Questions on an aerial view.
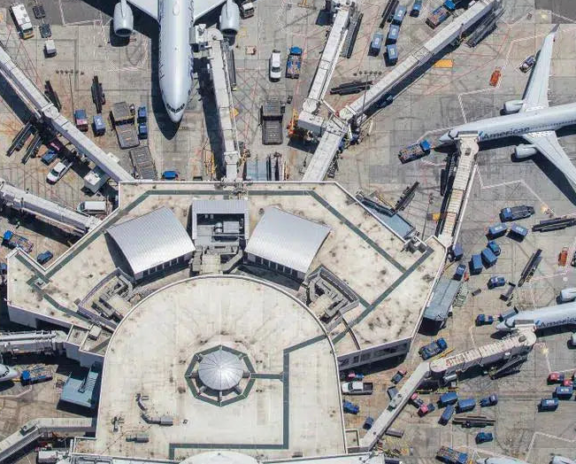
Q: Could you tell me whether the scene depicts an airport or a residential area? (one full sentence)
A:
The picture captures an airport.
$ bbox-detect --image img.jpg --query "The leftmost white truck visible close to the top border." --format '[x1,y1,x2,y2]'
[9,0,35,42]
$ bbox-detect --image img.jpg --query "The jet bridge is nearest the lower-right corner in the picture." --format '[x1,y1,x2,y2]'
[359,319,541,453]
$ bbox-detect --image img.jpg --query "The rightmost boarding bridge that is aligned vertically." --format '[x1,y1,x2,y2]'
[436,127,481,264]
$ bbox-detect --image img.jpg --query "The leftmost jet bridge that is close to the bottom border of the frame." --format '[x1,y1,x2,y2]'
[0,417,97,464]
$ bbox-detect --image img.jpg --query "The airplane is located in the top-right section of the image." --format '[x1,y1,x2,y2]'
[439,21,576,187]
